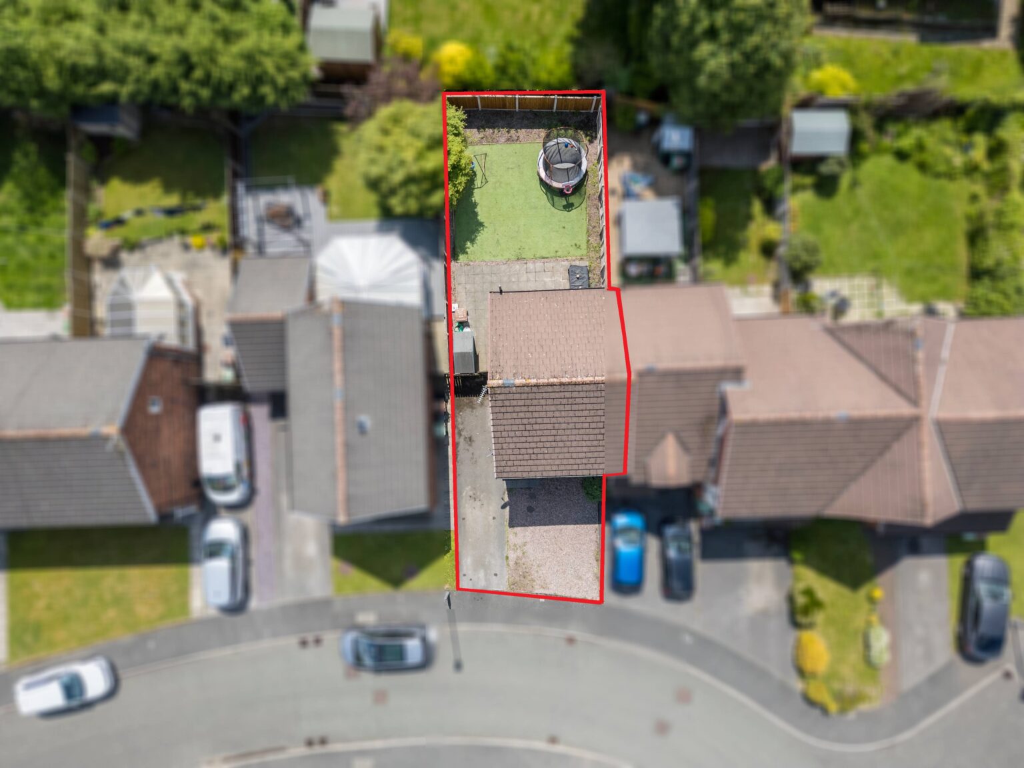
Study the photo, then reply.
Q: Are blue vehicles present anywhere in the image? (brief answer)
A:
Yes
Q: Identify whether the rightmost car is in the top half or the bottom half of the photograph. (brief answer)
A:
bottom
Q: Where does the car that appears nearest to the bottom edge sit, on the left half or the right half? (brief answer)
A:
left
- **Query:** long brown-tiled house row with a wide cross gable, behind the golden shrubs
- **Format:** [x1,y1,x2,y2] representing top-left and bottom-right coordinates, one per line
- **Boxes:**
[689,311,1024,529]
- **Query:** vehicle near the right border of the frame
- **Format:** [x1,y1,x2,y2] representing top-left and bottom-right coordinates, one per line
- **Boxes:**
[952,552,1012,659]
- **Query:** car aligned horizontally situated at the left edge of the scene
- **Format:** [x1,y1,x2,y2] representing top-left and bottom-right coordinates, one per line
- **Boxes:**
[14,655,118,714]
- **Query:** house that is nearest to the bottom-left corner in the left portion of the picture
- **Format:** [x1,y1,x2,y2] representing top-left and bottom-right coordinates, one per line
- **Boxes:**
[0,334,205,530]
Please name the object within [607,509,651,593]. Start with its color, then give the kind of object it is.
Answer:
blue car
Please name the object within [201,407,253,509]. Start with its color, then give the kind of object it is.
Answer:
white van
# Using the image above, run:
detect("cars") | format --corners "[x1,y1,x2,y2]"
[655,516,699,599]
[14,655,118,714]
[341,624,437,673]
[199,517,249,613]
[607,509,651,593]
[952,552,1012,659]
